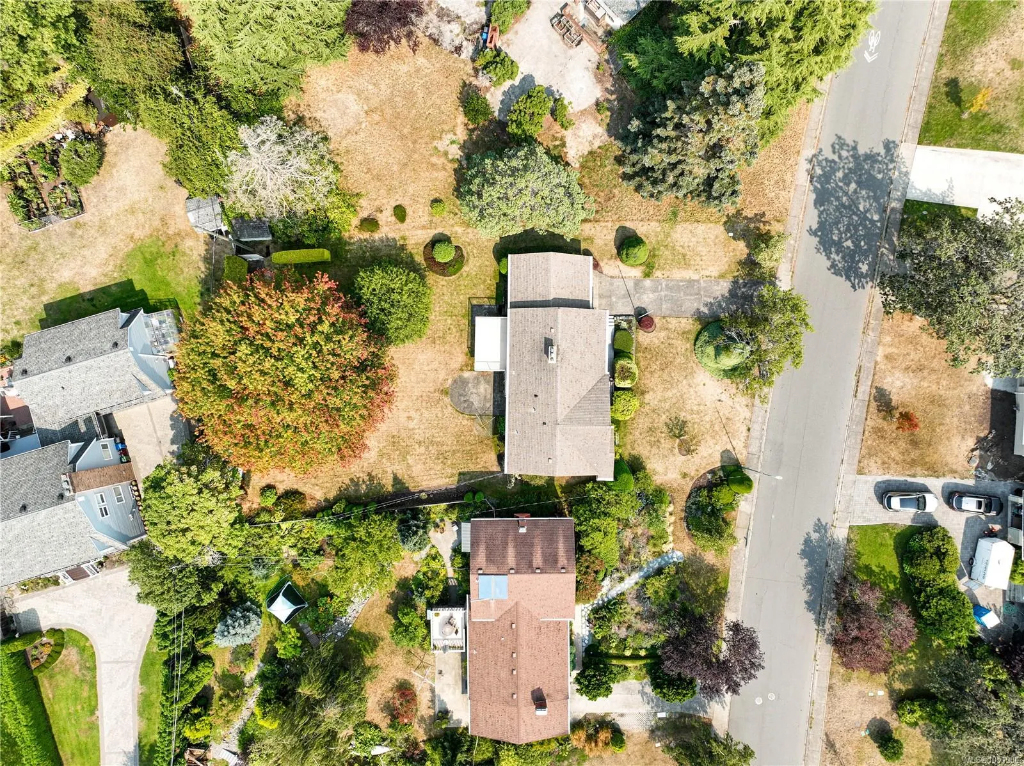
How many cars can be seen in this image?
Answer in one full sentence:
The picture shows 2 cars.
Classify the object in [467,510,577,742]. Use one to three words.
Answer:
house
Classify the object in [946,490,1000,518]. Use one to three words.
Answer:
car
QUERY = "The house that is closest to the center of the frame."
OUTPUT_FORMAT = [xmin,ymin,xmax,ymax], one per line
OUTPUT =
[503,250,617,478]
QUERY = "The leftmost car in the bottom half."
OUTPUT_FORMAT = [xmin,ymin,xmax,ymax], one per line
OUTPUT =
[880,489,936,516]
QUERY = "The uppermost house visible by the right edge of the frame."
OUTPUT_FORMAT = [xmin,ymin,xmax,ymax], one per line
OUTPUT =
[987,366,1023,391]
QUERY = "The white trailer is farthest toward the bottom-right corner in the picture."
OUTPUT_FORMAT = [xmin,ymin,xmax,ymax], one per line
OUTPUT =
[962,529,1015,591]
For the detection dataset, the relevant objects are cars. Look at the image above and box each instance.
[880,489,936,516]
[946,490,1000,518]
